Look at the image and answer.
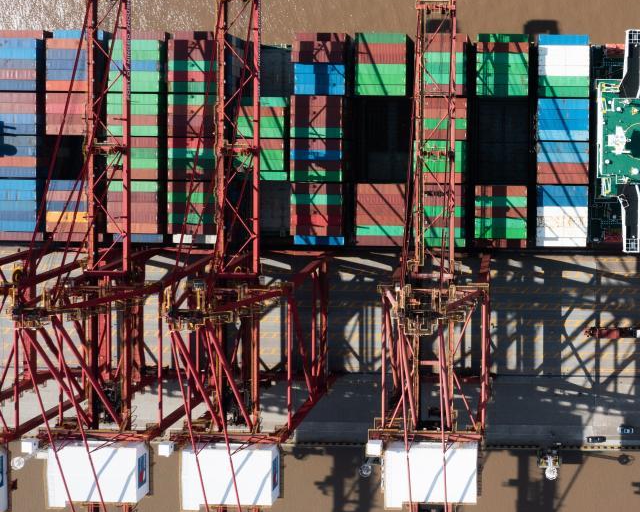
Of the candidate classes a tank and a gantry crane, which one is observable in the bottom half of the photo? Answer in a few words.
gantry crane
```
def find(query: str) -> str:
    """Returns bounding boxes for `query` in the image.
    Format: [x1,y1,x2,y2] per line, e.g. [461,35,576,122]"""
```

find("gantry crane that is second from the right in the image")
[156,0,345,512]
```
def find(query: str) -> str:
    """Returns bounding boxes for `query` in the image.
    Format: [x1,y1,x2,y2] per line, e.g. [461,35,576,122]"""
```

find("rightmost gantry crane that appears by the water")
[358,0,498,512]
